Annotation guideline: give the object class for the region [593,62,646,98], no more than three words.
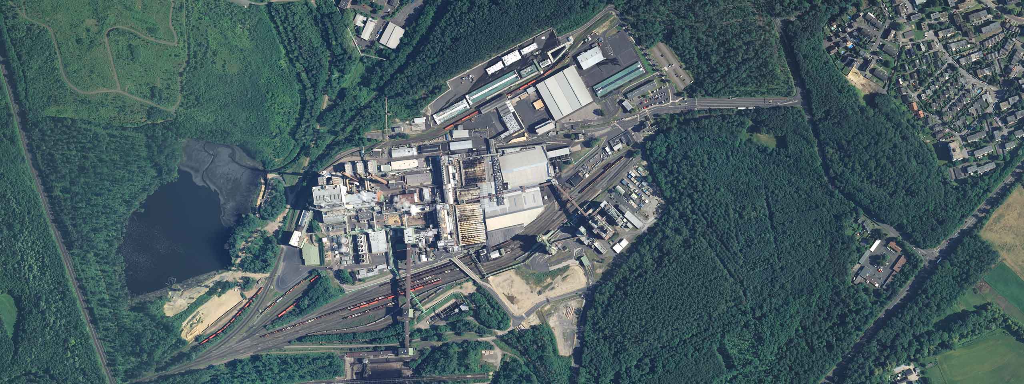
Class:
building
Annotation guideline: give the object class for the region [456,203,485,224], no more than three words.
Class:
building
